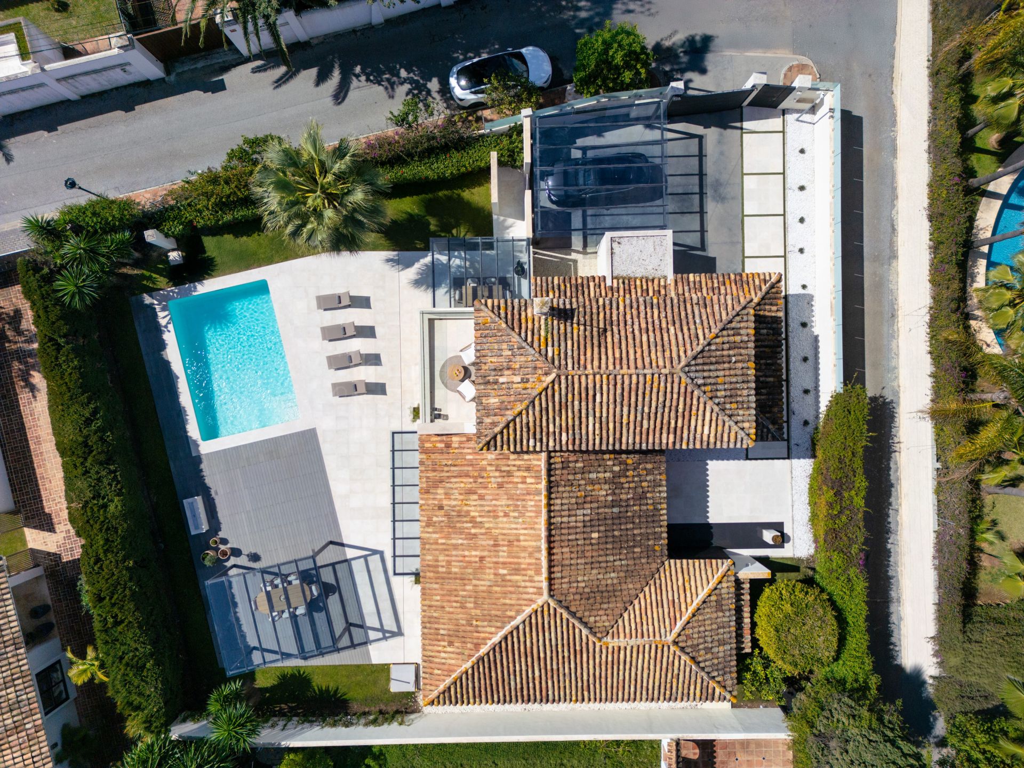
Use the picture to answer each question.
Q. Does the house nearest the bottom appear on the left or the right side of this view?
left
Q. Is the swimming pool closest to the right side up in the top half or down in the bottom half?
top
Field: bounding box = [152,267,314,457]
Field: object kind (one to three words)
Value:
swimming pool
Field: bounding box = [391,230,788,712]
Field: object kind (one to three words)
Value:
house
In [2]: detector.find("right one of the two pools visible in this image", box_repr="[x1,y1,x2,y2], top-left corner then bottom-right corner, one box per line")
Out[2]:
[967,161,1024,370]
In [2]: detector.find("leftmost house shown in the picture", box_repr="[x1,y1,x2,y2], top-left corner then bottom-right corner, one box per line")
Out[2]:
[0,541,94,768]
